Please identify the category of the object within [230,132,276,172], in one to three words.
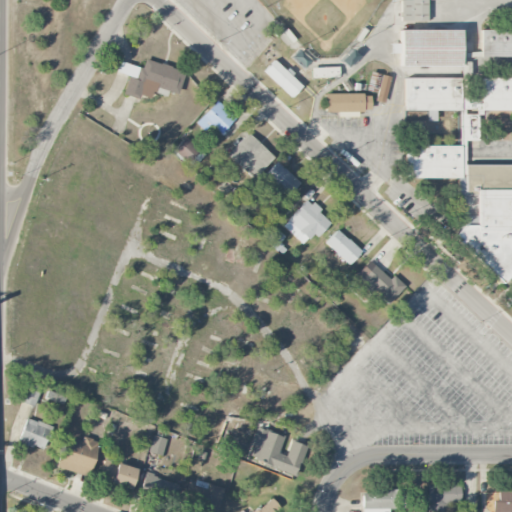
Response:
house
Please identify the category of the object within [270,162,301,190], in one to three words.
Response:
house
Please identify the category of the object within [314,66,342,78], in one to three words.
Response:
building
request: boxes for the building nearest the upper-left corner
[118,57,186,98]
